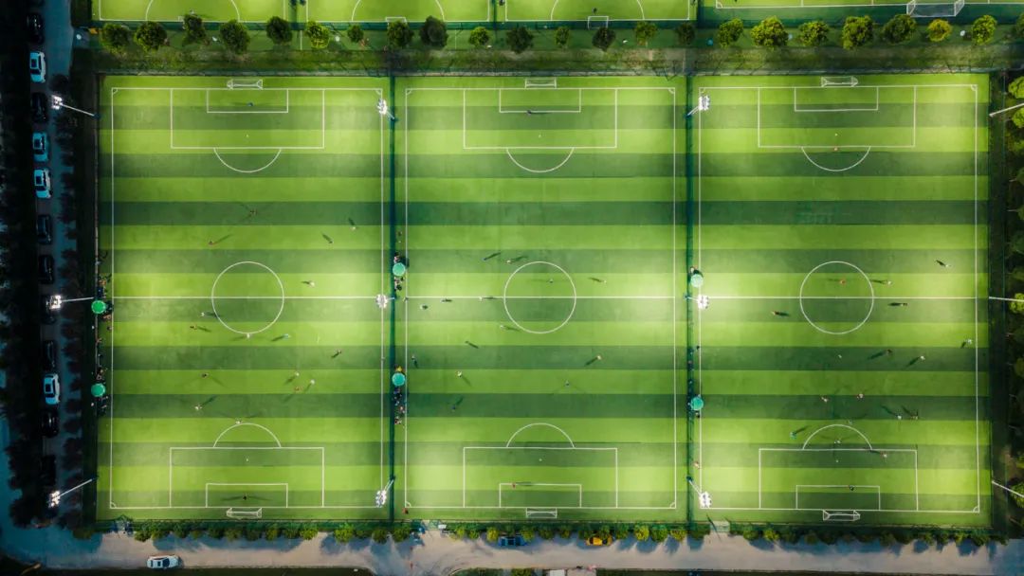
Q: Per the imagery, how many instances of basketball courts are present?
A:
zero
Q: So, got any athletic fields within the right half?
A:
Yes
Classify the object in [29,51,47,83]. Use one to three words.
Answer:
car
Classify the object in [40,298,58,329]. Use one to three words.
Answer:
car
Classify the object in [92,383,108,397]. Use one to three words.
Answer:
umbrella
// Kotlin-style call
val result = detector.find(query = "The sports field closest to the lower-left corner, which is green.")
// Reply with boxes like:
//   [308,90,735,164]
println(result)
[97,76,388,521]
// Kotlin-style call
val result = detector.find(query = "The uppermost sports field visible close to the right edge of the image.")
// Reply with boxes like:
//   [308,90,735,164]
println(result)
[701,0,1024,28]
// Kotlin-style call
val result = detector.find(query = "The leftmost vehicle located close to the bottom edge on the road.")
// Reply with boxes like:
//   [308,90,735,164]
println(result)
[147,553,181,570]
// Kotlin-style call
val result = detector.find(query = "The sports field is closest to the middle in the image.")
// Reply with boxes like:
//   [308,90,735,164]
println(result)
[394,76,687,521]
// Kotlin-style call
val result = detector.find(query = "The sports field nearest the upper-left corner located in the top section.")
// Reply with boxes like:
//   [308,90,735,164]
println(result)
[93,0,295,28]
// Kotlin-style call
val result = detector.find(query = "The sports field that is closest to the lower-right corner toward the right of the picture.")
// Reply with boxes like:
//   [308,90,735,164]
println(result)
[692,74,992,527]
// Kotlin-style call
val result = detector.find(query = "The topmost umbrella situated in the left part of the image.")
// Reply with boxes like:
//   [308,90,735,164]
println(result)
[392,262,405,276]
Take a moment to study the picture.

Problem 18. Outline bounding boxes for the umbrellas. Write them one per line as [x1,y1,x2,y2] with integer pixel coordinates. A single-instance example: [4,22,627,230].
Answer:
[392,262,405,276]
[690,397,704,411]
[92,300,109,314]
[690,273,704,287]
[92,383,108,397]
[392,373,405,386]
